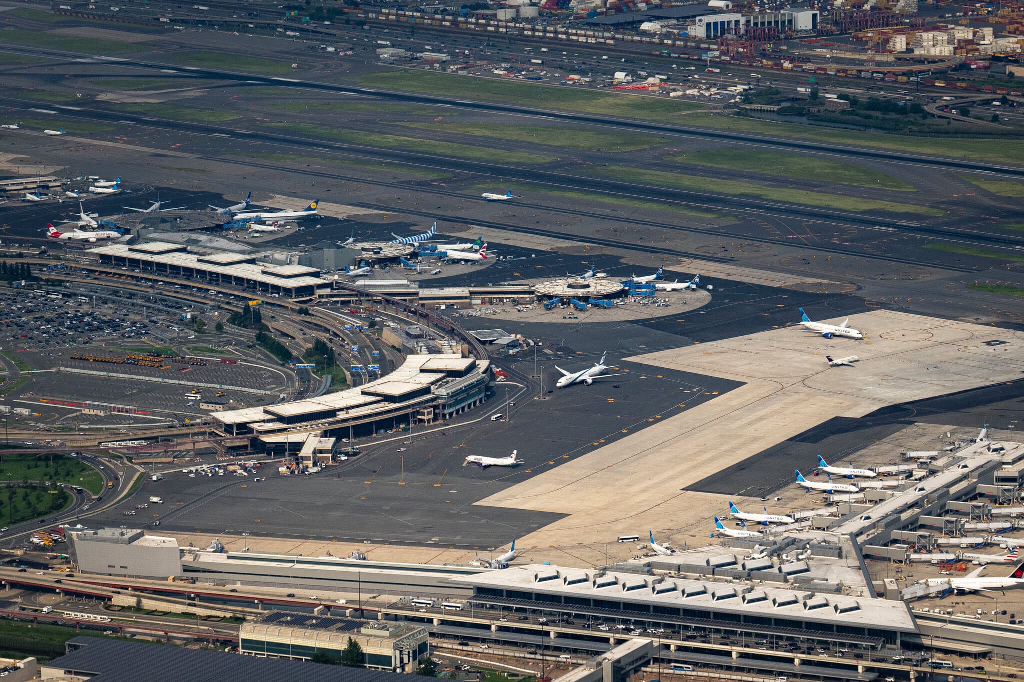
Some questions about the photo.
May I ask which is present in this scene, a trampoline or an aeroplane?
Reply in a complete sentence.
This aerial view contains an aeroplane.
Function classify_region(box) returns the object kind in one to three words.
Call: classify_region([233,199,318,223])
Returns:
airplane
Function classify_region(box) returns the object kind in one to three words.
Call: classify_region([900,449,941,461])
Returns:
jet bridge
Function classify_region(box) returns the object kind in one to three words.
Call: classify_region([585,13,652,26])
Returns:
shed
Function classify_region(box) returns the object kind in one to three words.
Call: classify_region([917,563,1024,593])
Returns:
airplane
